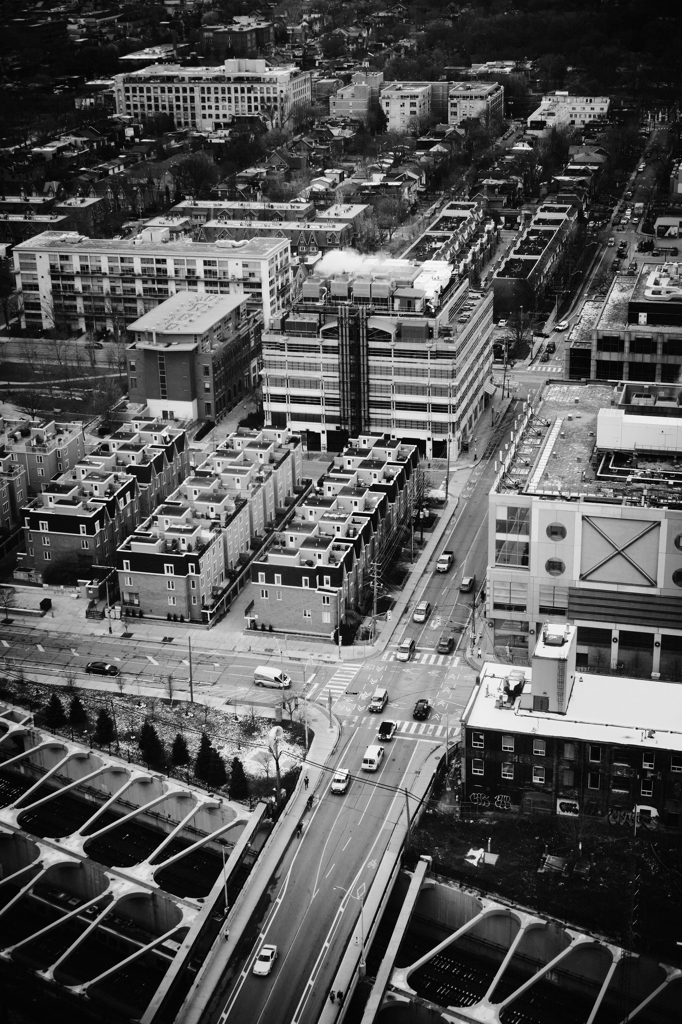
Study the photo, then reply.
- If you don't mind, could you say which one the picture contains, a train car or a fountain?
train car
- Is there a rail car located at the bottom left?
Yes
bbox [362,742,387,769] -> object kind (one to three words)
vehicle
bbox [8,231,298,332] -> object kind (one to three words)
building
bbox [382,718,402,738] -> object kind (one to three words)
car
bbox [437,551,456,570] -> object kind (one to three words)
vehicle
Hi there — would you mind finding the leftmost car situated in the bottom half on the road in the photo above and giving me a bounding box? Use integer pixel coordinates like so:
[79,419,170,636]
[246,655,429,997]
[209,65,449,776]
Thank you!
[86,661,121,676]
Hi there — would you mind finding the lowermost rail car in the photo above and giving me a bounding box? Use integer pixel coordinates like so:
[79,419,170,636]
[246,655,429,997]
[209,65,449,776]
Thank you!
[129,937,195,994]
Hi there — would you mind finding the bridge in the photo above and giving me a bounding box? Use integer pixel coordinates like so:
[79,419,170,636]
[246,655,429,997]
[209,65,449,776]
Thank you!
[156,796,411,1024]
